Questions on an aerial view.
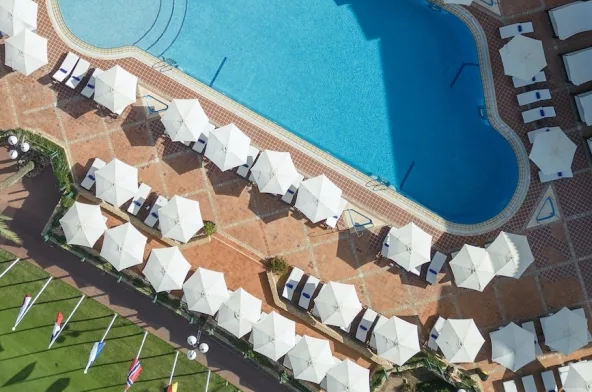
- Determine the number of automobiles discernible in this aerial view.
0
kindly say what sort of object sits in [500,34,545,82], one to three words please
umbrella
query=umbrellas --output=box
[206,124,252,171]
[315,280,362,328]
[487,232,535,278]
[61,201,107,247]
[252,312,295,361]
[449,244,496,291]
[4,29,47,76]
[529,127,576,174]
[500,34,545,82]
[287,337,334,384]
[562,360,592,392]
[218,290,261,338]
[161,100,209,142]
[375,316,419,365]
[158,195,203,243]
[251,150,299,194]
[326,359,369,392]
[101,222,147,270]
[143,246,191,291]
[491,321,534,371]
[95,158,138,206]
[541,307,585,355]
[296,175,342,223]
[0,0,39,36]
[388,222,432,271]
[435,318,484,361]
[95,65,138,113]
[183,268,229,315]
